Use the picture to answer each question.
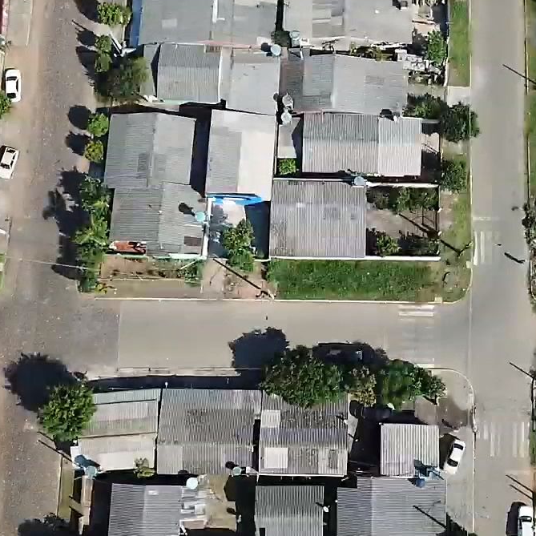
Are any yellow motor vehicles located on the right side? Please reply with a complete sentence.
No, I see no yellow motor vehicle on the right side.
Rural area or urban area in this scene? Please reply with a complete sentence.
It looks urban.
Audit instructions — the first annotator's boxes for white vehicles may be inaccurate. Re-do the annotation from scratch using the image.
[3,71,21,102]
[442,437,466,476]
[0,146,18,179]
[516,505,535,536]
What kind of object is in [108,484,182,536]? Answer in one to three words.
house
